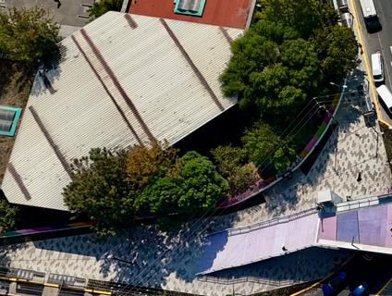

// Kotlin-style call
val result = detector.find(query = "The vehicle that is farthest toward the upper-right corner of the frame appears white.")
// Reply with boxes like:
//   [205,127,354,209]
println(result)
[361,0,382,23]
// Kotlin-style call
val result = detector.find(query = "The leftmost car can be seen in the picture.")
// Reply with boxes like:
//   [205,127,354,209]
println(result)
[320,267,350,296]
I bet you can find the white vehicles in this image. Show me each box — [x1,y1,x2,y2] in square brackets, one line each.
[375,84,392,118]
[361,0,382,23]
[371,52,386,84]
